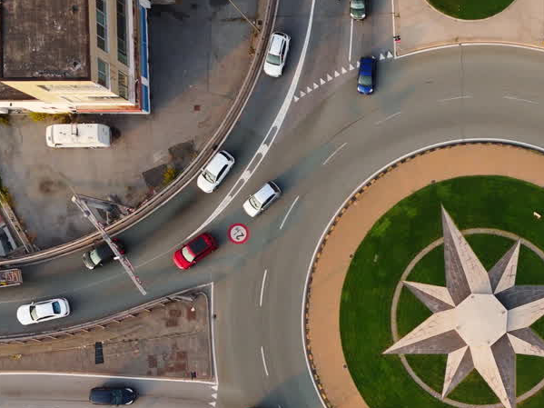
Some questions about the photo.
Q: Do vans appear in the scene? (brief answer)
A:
Yes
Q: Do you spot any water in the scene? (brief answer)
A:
No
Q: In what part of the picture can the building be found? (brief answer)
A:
top left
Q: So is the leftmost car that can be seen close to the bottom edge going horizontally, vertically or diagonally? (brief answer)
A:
horizontally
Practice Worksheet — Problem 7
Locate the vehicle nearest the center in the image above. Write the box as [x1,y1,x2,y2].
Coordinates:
[245,181,283,217]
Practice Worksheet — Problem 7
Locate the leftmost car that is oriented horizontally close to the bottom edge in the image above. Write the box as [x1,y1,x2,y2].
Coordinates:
[89,384,139,407]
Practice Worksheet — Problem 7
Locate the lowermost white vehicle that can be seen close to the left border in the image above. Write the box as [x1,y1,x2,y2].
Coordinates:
[18,299,73,324]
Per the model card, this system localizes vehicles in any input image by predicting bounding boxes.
[18,299,73,324]
[245,181,283,217]
[199,150,234,193]
[89,384,139,407]
[262,30,291,80]
[345,0,369,22]
[355,56,377,95]
[173,233,218,267]
[0,267,26,288]
[84,239,128,268]
[48,120,115,149]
